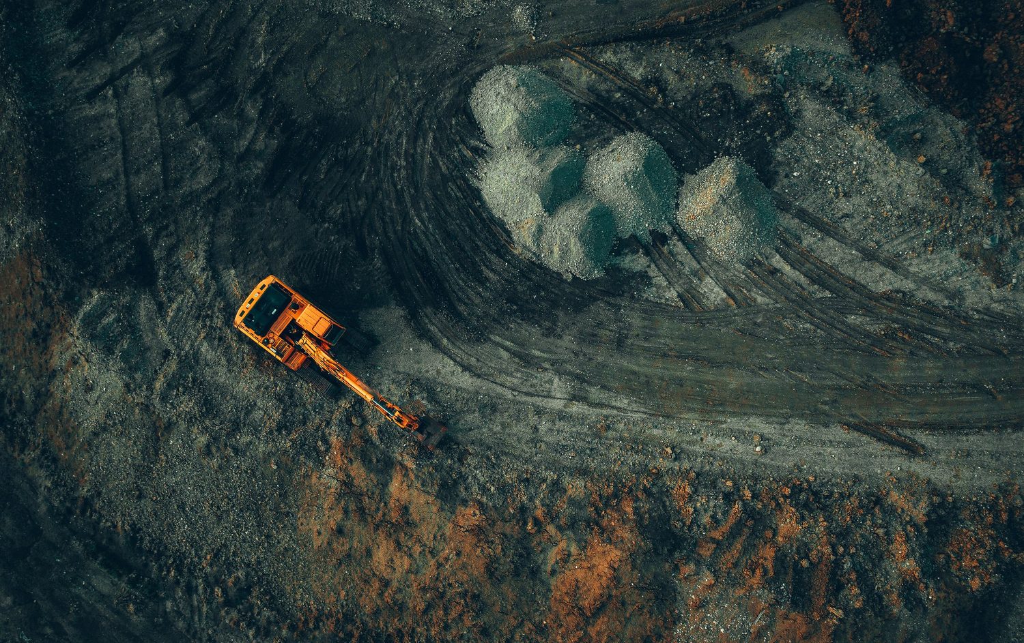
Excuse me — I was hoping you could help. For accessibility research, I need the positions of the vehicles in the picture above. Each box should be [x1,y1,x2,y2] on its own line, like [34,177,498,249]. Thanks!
[237,276,448,452]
